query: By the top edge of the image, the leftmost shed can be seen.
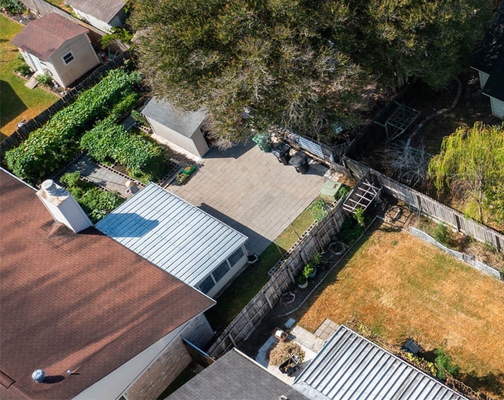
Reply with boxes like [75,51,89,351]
[10,16,103,93]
